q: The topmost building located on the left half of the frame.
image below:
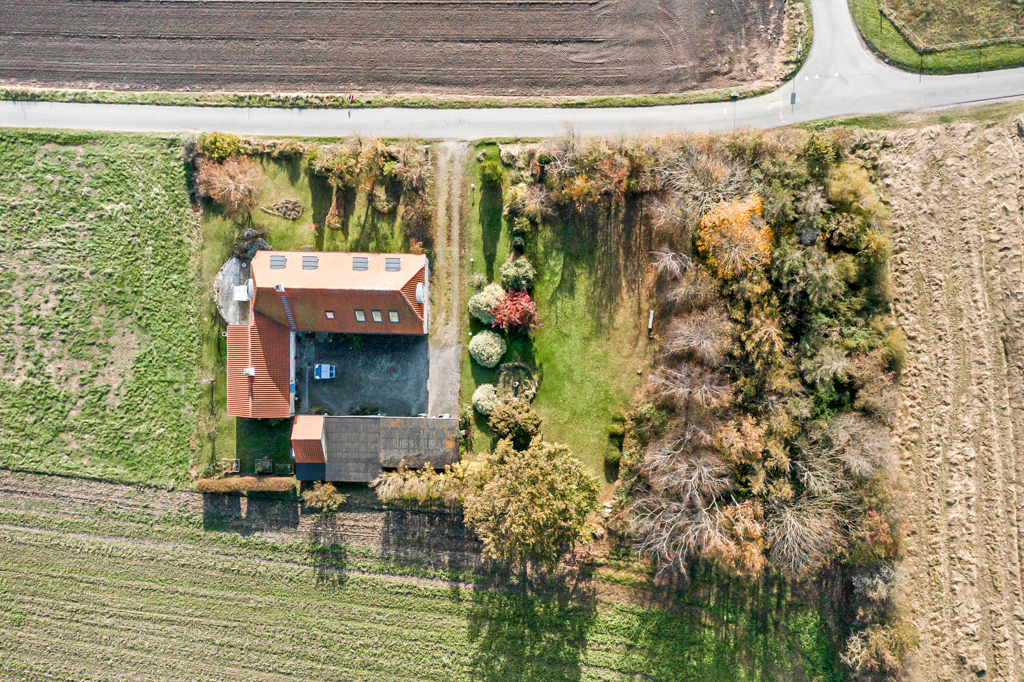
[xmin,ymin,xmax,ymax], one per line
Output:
[227,249,428,420]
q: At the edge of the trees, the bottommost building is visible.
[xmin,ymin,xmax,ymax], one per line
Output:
[290,414,459,481]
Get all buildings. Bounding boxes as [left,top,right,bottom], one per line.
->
[227,249,428,420]
[290,414,459,481]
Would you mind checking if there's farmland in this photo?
Yes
